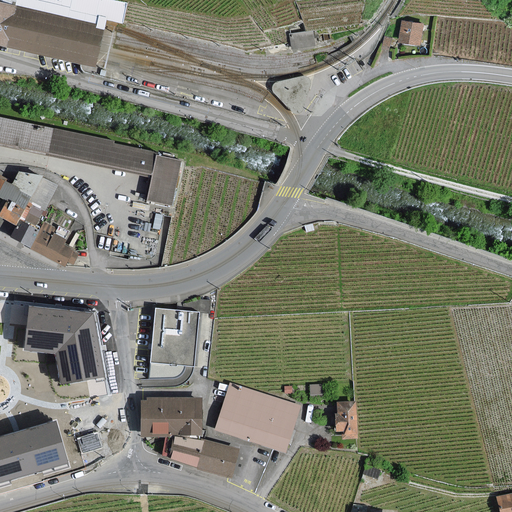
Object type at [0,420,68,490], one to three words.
building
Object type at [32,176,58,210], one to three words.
shed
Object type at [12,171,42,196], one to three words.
house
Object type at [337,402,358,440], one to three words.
house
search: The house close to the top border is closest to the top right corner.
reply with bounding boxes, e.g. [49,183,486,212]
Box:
[399,20,425,45]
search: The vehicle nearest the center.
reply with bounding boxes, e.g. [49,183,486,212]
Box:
[255,220,276,242]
